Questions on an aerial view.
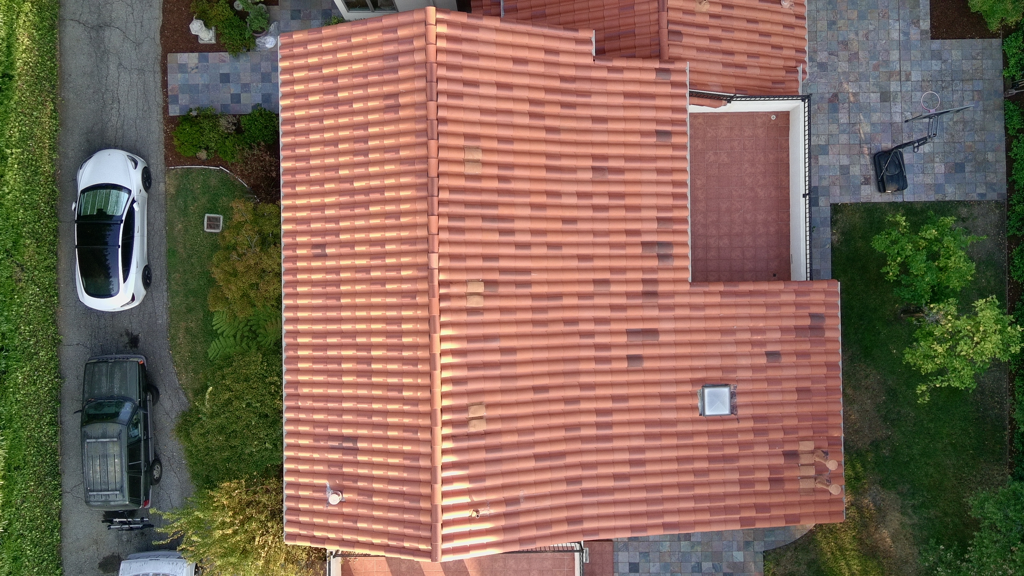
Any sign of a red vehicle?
No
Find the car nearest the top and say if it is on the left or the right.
left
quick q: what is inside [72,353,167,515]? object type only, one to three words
car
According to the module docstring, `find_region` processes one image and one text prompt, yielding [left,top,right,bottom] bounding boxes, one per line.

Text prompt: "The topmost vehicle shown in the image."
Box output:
[71,151,158,313]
